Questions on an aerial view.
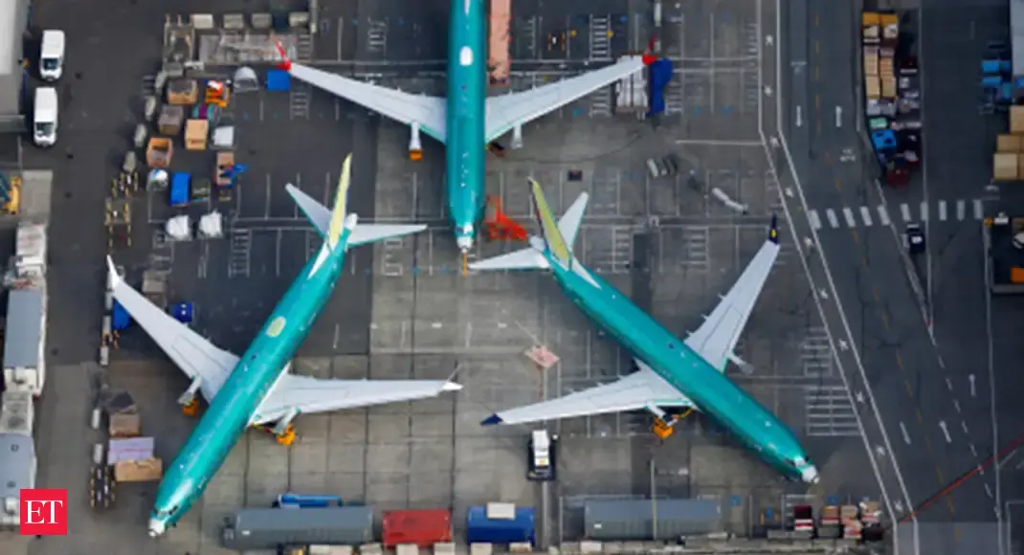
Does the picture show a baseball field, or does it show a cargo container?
cargo container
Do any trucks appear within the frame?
Yes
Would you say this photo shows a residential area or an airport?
airport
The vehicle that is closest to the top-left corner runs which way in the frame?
up and down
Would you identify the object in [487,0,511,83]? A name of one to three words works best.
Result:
trailer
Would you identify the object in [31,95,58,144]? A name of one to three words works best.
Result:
vehicle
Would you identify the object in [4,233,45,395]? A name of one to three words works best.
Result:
truck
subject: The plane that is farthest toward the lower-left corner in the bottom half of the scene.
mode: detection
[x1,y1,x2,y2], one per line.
[105,155,463,537]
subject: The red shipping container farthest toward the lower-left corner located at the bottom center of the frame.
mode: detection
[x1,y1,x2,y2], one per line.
[381,508,454,548]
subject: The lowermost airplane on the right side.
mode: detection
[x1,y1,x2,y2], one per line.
[470,178,821,484]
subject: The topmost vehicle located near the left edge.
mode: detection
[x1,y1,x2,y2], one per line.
[37,32,64,80]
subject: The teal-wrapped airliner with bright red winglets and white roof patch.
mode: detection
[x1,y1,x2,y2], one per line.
[275,0,658,255]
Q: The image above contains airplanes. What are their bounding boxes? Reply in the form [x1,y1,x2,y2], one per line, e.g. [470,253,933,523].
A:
[105,155,463,537]
[275,0,658,255]
[470,178,821,484]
